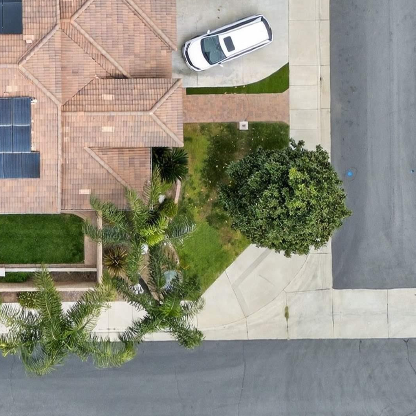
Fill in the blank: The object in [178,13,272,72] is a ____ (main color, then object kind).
white van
